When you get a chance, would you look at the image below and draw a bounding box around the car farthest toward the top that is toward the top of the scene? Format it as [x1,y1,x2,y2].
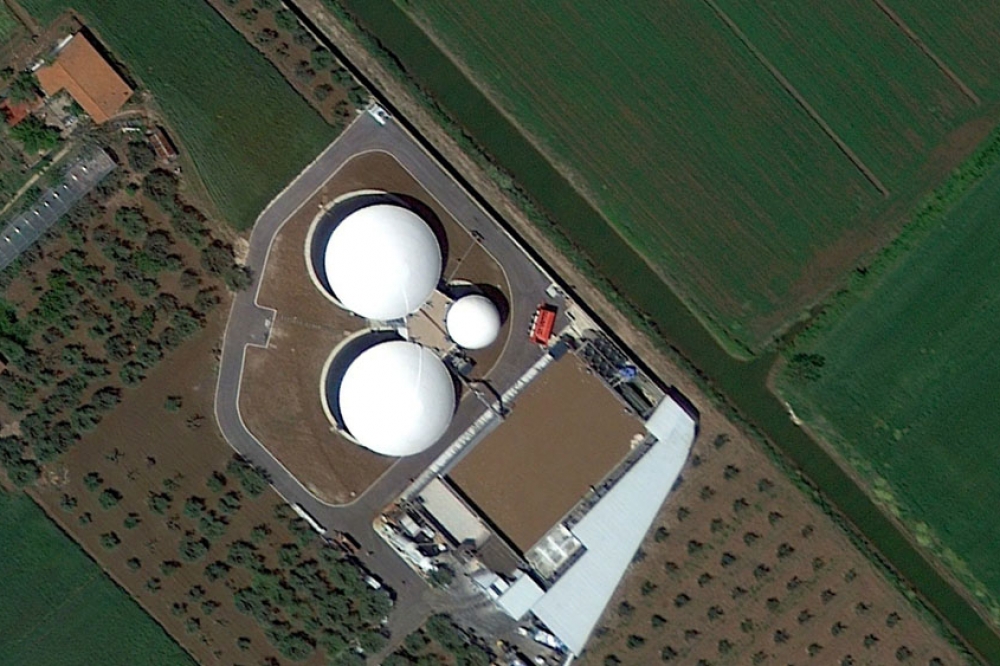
[63,113,79,127]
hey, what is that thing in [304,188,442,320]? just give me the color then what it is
white storage tank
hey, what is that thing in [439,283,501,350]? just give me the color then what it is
white storage tank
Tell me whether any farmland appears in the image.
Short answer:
Yes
